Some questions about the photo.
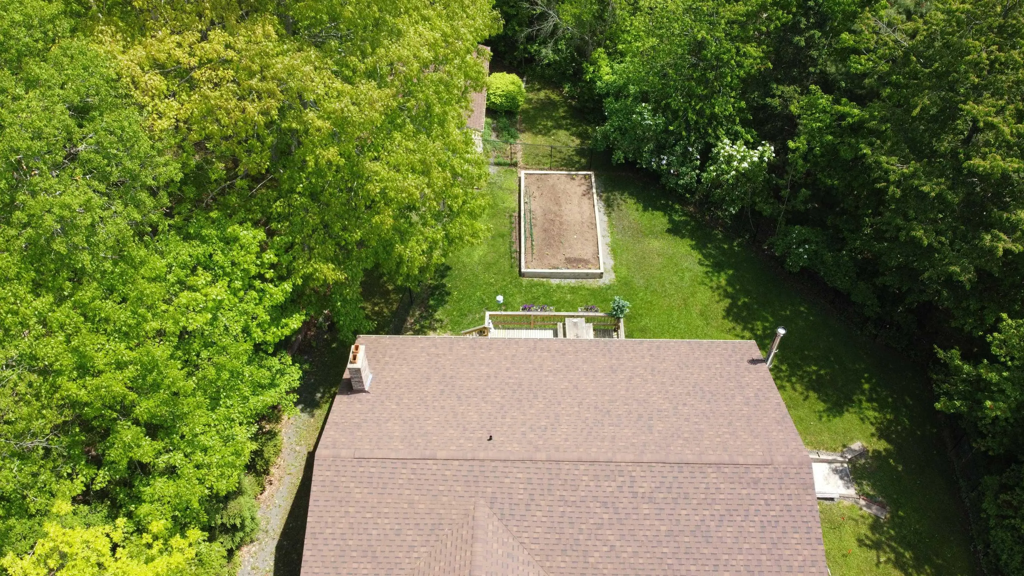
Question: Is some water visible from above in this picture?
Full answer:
No, water can't be seen anywhere here.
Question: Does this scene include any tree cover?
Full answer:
Yes, there's tree cover in this view.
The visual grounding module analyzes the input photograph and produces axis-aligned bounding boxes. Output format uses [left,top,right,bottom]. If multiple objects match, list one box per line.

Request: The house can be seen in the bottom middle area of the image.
[300,329,828,576]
